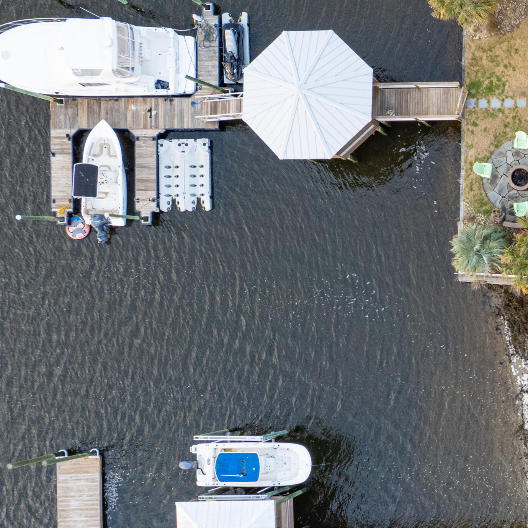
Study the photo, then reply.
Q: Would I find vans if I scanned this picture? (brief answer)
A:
No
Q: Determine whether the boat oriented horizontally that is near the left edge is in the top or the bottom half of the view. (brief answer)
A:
top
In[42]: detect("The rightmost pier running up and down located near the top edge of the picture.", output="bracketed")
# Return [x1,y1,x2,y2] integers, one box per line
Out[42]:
[222,11,251,85]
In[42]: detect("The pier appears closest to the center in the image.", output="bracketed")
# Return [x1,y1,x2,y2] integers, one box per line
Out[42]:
[158,139,214,212]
